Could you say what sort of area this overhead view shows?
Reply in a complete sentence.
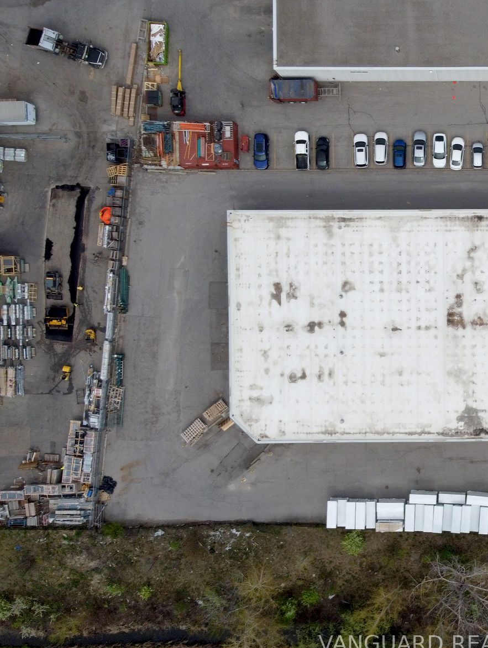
The picture captures a parking lot.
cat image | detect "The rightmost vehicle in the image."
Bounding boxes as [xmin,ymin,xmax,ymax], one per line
[470,143,485,169]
